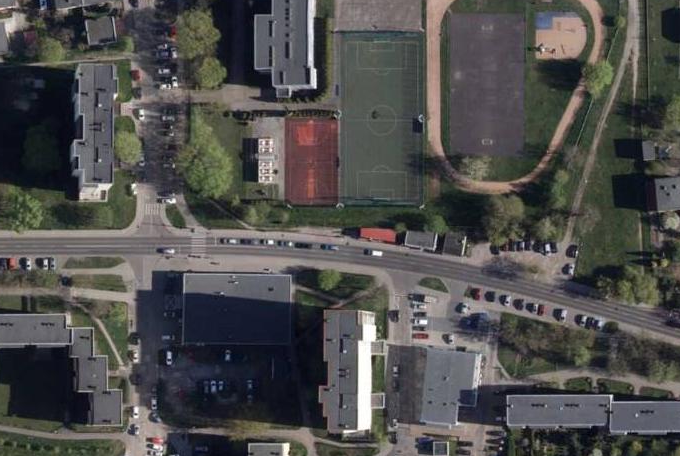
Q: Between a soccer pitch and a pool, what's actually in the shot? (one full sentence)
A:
The image shows a soccer pitch.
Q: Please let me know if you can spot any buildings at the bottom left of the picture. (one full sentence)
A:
Yes, I can see a building at the bottom left of the picture.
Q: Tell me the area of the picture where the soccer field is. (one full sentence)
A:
The soccer field is located in the top region of the scene.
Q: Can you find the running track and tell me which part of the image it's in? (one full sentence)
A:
The running track is in the top right part of the image.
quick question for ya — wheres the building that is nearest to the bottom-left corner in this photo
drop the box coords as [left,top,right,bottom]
[0,314,128,425]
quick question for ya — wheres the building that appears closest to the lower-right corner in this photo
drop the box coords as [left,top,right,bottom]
[610,401,680,435]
